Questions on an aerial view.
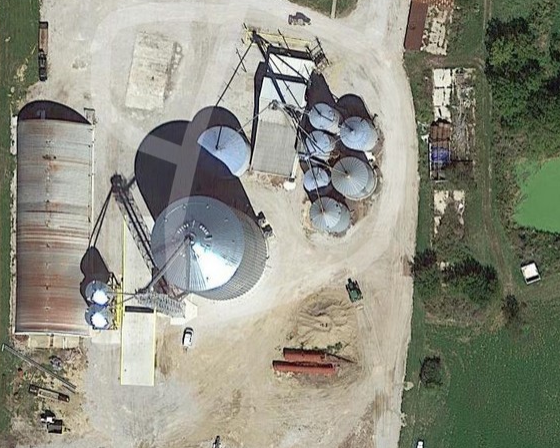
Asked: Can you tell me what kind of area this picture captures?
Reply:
industrial area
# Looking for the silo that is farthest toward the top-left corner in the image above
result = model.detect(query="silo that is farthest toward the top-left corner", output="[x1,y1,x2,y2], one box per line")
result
[198,124,253,179]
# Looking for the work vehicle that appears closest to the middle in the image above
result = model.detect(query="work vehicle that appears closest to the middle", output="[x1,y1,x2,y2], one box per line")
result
[348,276,362,300]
